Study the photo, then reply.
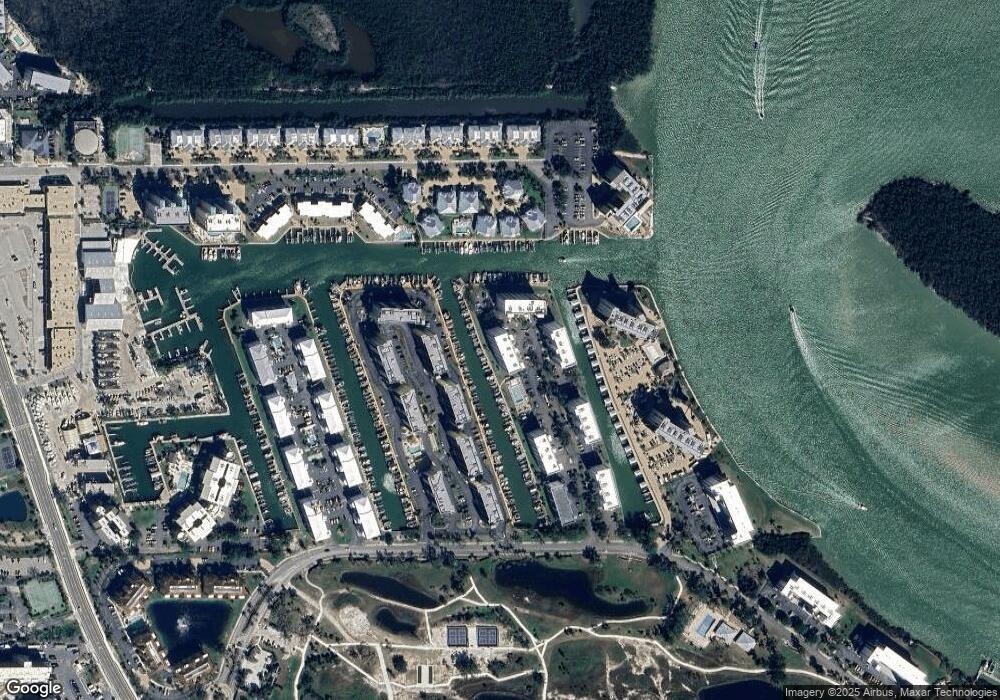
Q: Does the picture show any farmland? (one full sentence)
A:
No, no farmland is visible.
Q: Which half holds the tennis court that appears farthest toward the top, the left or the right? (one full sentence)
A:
You can find the tennis court that appears farthest toward the top on the left side of the picture.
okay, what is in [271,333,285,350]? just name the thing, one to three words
swimming pool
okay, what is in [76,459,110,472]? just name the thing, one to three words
building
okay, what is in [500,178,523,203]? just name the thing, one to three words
house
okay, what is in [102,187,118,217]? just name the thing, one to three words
tennis court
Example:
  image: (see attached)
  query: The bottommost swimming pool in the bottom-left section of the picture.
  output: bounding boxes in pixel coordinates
[124,610,144,624]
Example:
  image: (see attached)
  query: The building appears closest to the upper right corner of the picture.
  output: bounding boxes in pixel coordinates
[601,165,648,222]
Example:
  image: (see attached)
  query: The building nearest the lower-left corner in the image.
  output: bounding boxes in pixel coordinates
[0,660,52,688]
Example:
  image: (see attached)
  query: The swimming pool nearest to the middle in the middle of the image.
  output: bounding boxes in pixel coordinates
[508,382,525,404]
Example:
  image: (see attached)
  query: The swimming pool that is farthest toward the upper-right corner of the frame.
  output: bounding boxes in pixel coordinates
[624,215,643,234]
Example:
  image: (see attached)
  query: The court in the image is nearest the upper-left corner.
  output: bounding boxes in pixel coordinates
[117,126,145,154]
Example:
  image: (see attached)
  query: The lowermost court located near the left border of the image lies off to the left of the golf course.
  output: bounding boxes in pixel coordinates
[25,579,64,615]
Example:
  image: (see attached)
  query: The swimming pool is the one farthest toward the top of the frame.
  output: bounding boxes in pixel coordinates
[10,29,27,49]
